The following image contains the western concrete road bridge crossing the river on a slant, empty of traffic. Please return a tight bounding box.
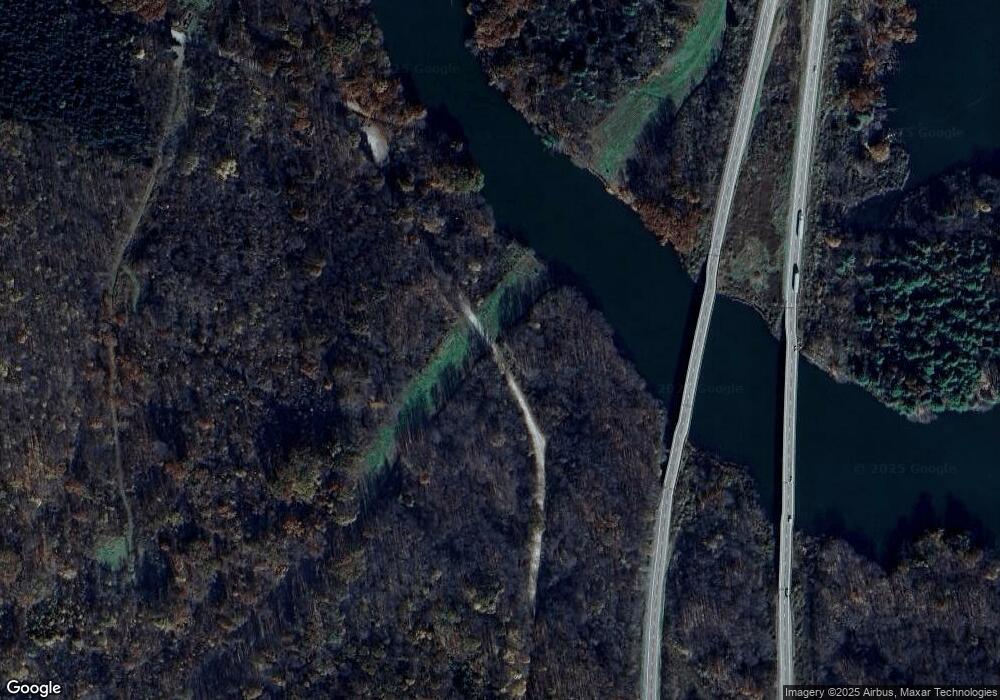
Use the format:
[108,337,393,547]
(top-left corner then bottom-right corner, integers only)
[660,255,722,504]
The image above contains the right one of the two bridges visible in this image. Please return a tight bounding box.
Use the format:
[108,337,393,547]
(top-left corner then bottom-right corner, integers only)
[778,307,798,589]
